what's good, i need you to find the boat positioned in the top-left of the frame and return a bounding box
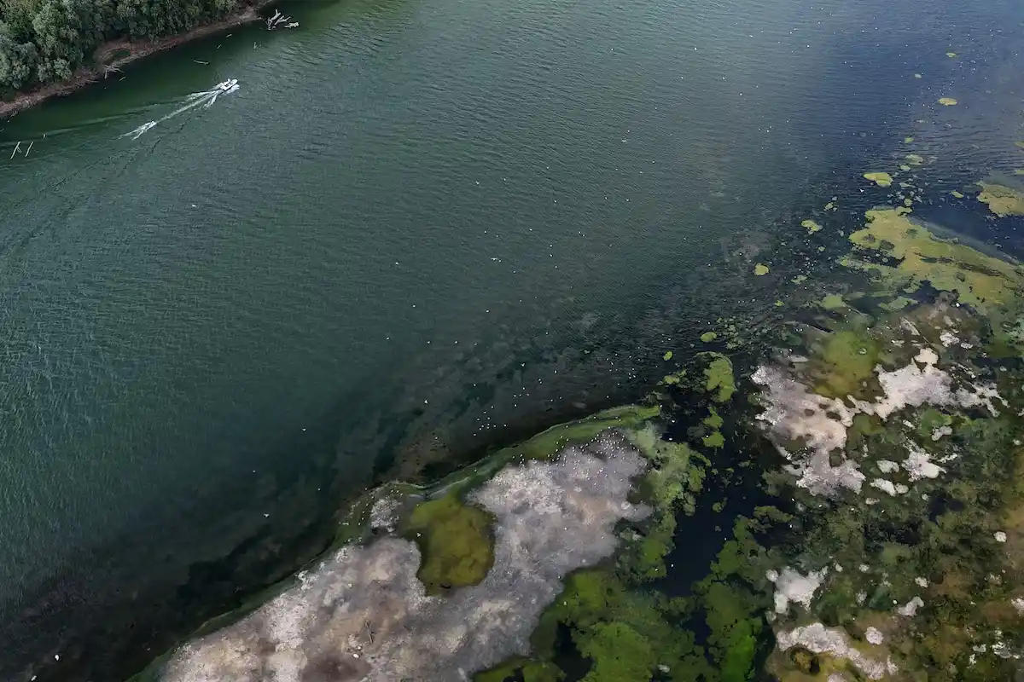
[219,76,237,91]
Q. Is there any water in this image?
Yes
